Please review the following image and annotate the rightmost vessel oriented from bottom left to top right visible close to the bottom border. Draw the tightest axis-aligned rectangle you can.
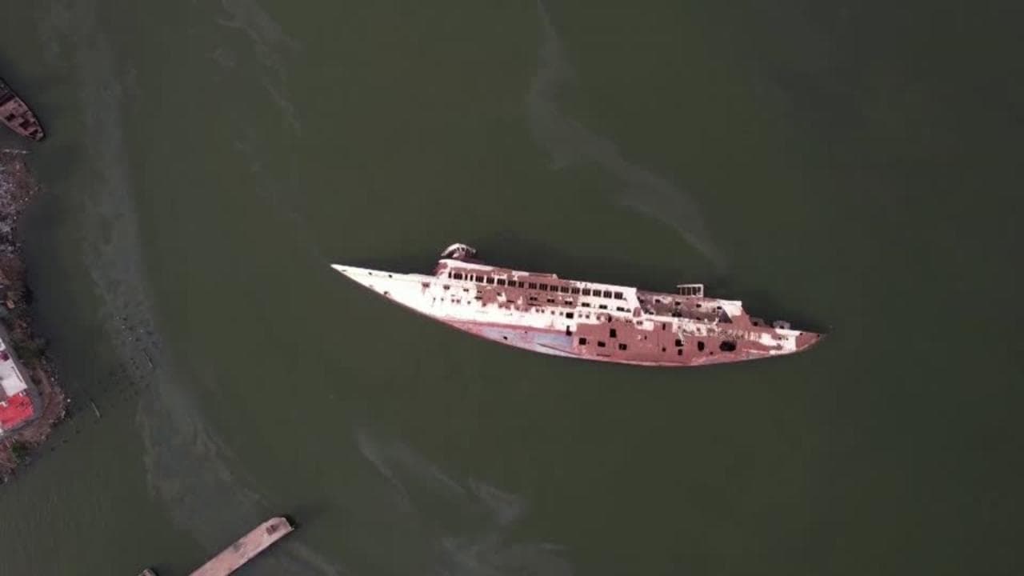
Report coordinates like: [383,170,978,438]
[190,517,295,576]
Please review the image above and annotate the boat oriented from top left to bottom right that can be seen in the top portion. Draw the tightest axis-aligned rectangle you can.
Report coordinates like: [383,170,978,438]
[0,76,47,140]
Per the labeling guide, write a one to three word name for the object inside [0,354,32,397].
house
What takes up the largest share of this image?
water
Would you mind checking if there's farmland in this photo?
No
